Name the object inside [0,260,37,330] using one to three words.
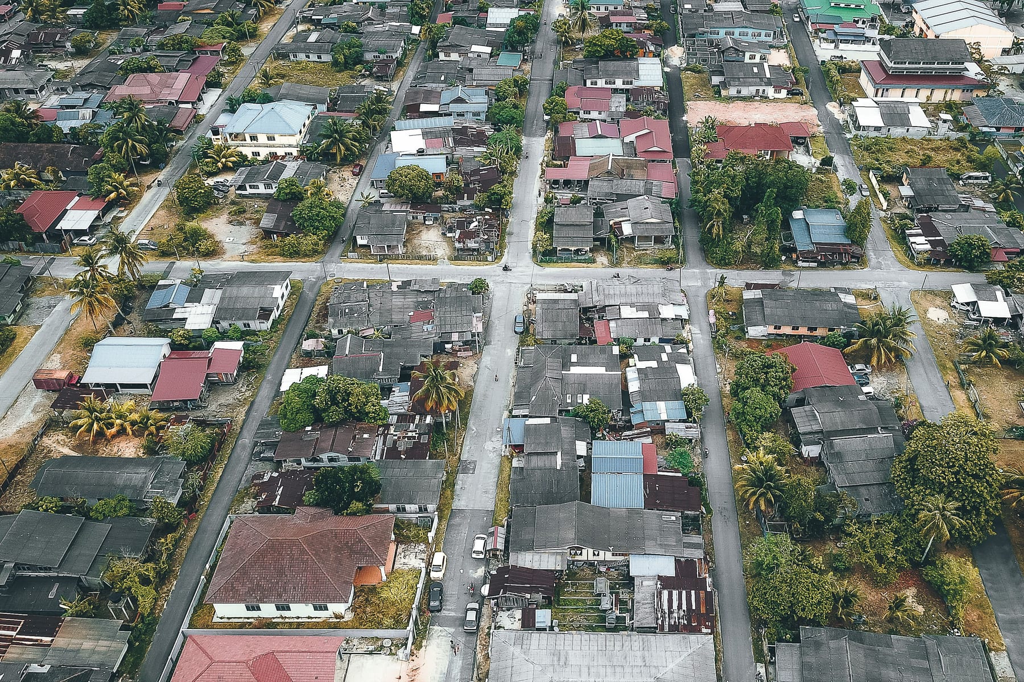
house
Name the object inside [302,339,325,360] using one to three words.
shed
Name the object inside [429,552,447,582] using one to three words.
car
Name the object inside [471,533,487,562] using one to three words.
car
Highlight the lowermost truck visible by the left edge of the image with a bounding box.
[23,366,86,396]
